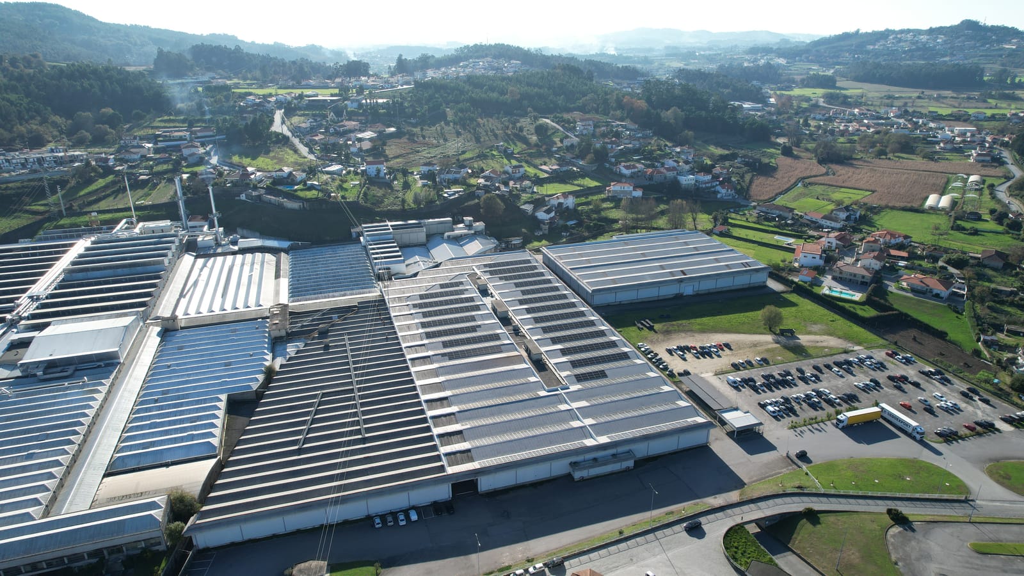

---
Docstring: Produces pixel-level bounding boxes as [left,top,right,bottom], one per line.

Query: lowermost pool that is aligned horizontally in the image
[822,286,861,300]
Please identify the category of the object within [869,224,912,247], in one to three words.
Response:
house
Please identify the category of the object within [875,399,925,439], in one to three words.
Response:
truck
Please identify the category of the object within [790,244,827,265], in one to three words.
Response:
house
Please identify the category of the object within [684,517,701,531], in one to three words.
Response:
car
